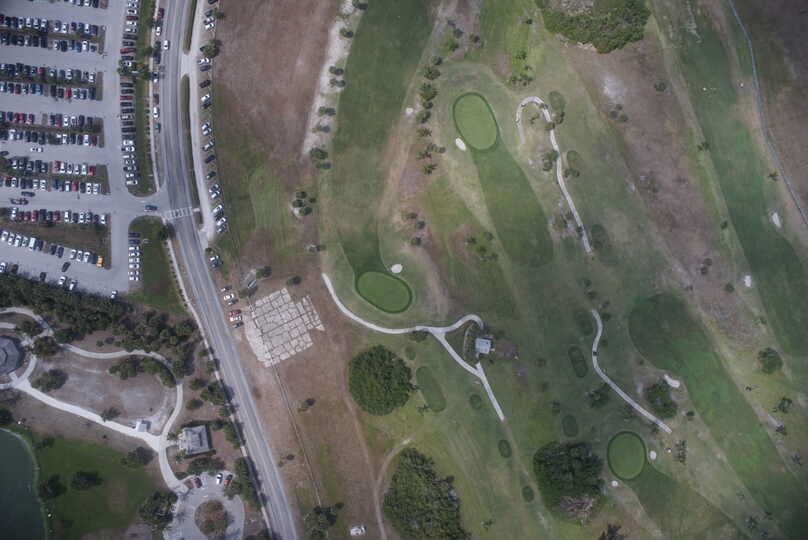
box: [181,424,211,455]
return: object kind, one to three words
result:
building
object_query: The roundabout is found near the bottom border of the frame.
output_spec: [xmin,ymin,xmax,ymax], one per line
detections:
[194,501,228,538]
